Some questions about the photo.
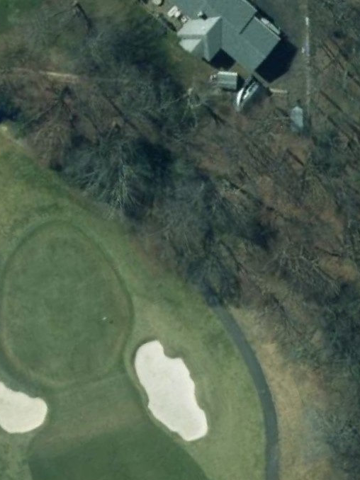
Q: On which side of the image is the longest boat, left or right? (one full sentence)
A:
It is on the right.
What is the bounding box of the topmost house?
[173,0,280,70]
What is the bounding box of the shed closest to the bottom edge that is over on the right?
[218,70,237,88]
